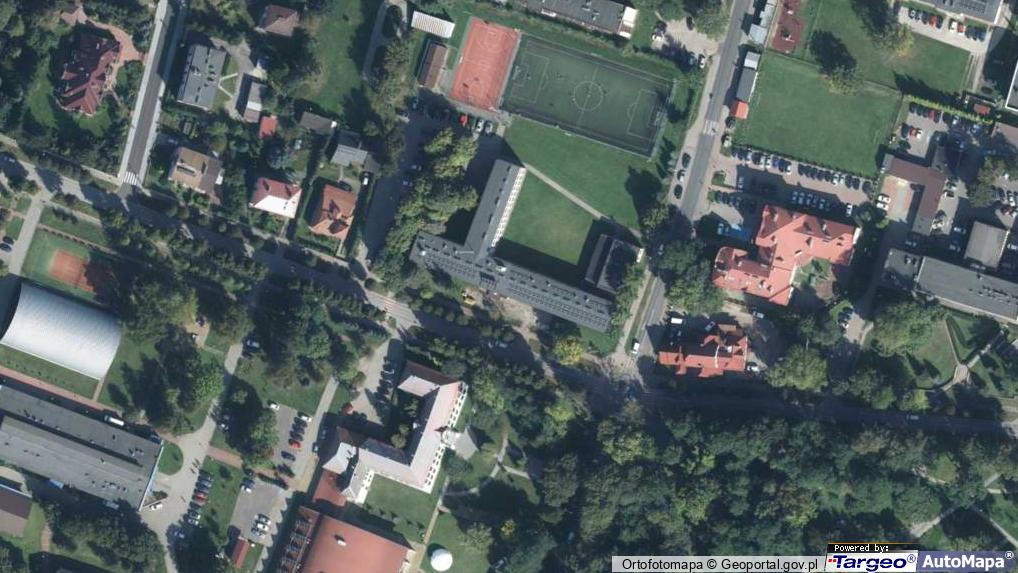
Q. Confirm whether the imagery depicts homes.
Yes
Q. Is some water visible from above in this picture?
No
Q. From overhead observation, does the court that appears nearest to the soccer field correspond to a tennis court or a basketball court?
basketball court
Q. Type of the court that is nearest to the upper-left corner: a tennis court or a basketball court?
tennis court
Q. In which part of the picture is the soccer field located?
top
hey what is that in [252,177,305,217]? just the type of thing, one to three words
house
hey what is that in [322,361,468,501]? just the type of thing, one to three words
building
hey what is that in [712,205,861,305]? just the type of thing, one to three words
building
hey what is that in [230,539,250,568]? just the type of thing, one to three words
shed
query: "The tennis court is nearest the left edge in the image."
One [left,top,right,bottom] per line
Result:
[20,228,124,309]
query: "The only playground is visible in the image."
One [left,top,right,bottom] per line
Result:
[771,0,804,54]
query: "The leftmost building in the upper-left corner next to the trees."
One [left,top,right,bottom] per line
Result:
[56,36,124,113]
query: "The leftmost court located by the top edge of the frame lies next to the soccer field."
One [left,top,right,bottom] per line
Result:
[444,14,523,112]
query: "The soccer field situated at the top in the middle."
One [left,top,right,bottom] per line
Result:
[497,27,680,156]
